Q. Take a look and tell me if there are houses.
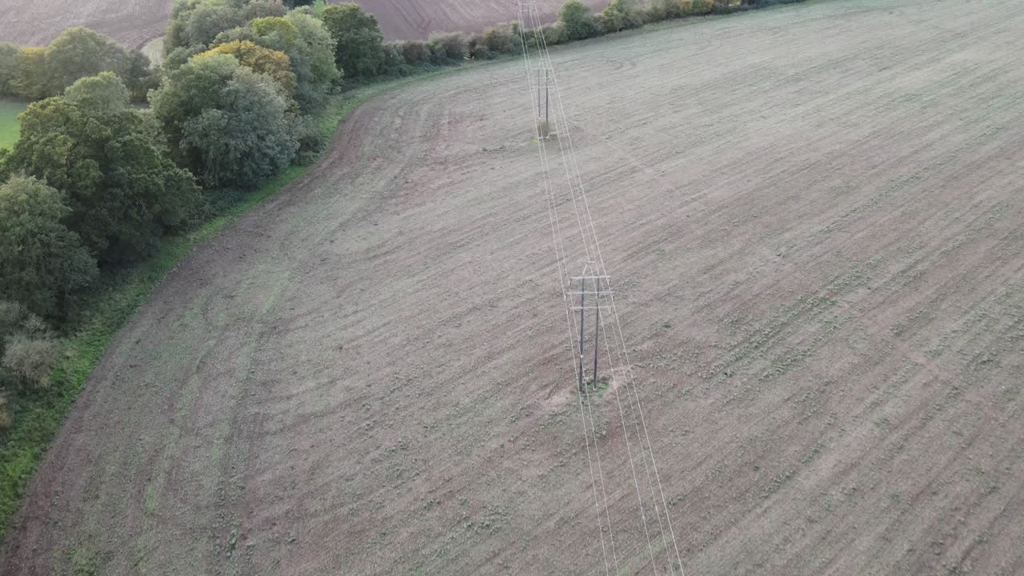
No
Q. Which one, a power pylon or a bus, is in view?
power pylon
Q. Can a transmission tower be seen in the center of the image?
Yes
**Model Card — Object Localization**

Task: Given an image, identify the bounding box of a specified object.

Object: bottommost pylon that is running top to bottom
[566,261,615,391]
